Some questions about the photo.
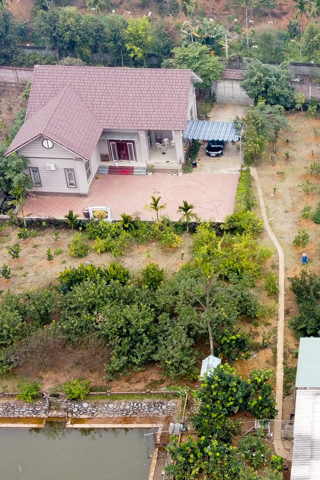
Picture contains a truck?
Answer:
No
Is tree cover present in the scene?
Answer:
Yes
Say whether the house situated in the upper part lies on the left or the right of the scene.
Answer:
left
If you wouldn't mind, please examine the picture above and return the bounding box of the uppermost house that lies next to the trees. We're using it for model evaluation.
[4,64,200,196]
